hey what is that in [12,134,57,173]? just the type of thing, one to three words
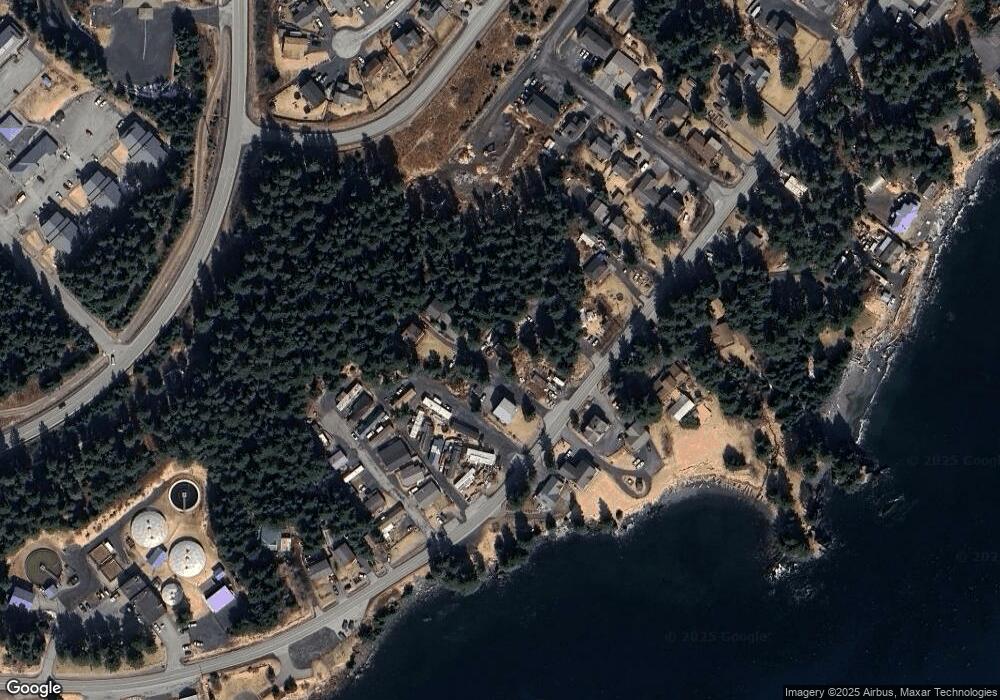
building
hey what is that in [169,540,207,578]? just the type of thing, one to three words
storage tank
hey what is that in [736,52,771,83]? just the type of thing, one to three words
house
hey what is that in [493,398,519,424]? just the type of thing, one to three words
barn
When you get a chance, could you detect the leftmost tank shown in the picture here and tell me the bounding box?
[24,549,62,586]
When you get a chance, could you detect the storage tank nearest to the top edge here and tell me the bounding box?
[169,480,200,511]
